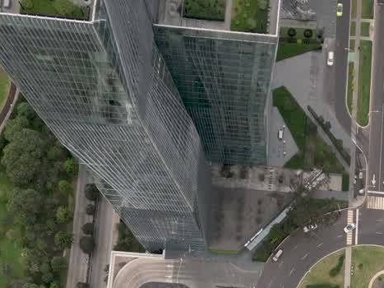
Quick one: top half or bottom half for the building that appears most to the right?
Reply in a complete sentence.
You can find the building that appears most to the right in the top half.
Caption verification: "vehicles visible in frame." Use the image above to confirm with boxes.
[342,222,357,233]
[273,249,283,261]
[336,3,343,16]
[328,51,334,65]
[302,223,317,233]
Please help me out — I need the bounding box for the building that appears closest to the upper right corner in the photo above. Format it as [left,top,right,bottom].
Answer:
[157,0,280,166]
